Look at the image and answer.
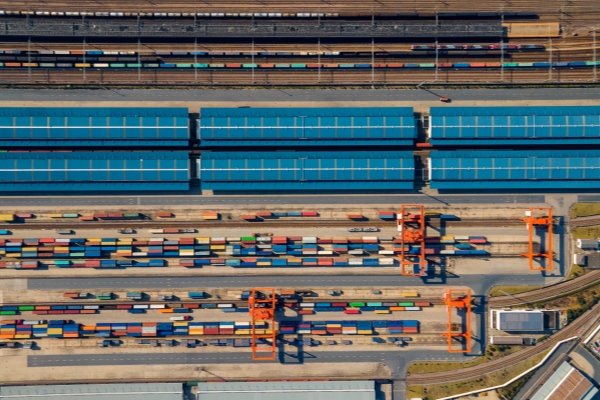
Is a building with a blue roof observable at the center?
Yes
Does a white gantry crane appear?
No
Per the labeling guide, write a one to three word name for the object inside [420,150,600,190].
building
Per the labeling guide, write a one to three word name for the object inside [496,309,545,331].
building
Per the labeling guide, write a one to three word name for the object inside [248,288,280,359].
container crane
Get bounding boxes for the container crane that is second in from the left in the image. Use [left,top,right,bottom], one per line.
[395,205,425,276]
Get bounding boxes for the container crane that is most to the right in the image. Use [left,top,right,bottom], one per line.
[519,208,553,270]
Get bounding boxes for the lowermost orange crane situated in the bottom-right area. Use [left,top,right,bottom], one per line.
[441,289,472,352]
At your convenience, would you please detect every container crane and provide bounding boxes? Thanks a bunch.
[395,205,425,276]
[441,289,472,352]
[248,288,280,359]
[519,208,553,270]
